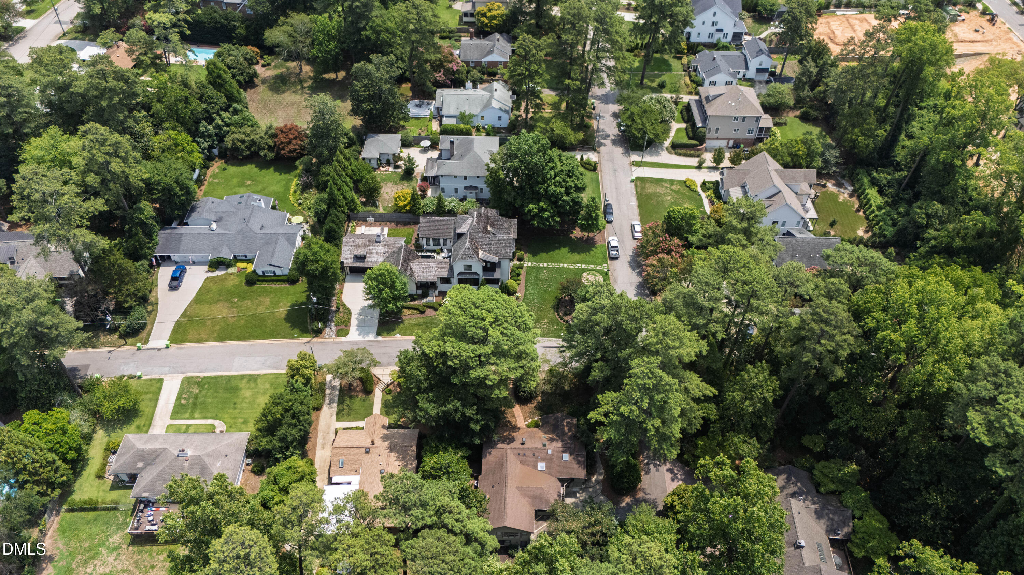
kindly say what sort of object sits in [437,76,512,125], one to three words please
house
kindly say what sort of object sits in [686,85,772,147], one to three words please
house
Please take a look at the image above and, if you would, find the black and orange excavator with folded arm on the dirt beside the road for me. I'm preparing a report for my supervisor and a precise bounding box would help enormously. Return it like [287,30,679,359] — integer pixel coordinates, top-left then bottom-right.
[974,6,1001,24]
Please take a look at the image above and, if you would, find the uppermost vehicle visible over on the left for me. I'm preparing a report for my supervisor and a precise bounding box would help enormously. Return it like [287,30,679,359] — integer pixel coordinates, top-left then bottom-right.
[167,267,188,290]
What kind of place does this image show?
residential area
